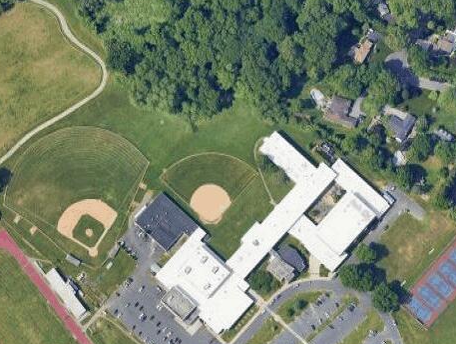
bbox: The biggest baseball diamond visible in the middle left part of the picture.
[4,125,148,268]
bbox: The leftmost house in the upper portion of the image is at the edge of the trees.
[324,96,356,129]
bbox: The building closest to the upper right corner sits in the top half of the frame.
[418,32,456,53]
